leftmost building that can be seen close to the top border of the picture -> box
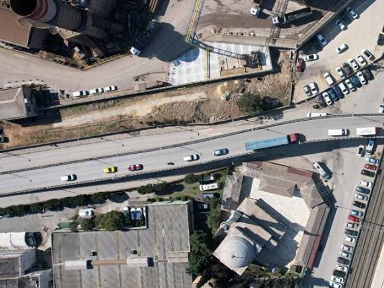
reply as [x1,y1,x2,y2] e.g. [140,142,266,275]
[0,6,45,48]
